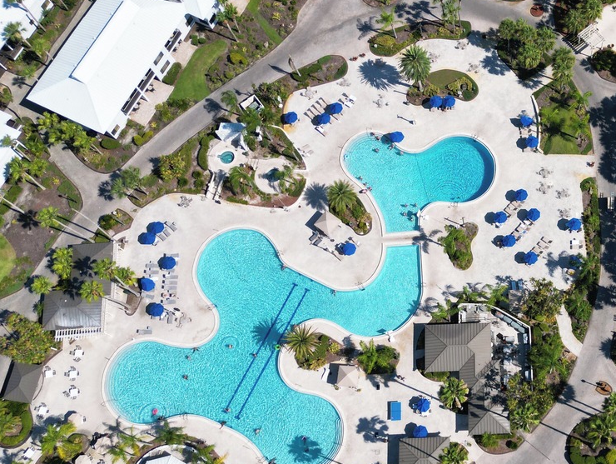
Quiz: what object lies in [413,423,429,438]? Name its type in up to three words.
umbrella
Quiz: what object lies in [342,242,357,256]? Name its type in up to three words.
umbrella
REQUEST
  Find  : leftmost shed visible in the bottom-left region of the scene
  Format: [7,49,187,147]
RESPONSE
[3,363,47,404]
